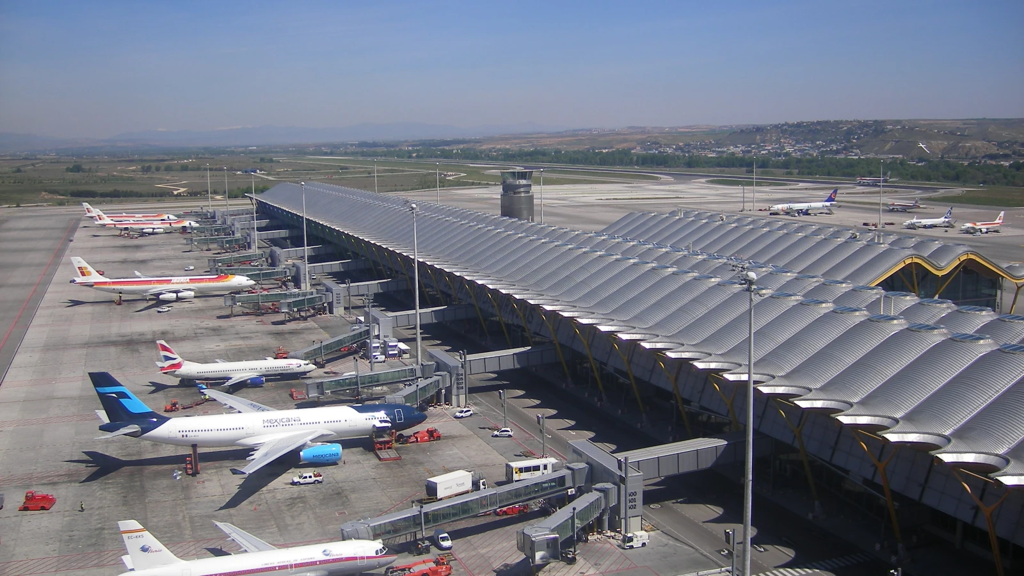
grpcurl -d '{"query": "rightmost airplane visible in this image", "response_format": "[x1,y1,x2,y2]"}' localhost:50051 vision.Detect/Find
[960,210,1004,232]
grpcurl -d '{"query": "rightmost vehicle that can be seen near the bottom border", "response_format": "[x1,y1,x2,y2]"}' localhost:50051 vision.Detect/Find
[618,527,653,551]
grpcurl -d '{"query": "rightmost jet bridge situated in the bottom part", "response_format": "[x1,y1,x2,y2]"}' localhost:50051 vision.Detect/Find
[536,482,618,571]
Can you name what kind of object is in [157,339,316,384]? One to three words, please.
airplane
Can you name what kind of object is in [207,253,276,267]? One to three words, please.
jet bridge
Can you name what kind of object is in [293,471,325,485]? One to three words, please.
vehicle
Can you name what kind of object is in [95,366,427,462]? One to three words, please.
airplane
